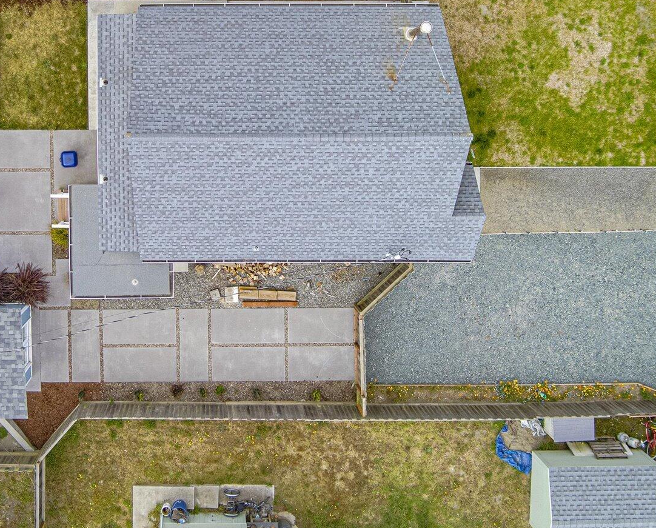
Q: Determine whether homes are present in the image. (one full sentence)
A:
Yes, there is a home in the image.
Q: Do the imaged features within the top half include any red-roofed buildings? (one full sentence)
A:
No, no red-roofed building can be made out within the top half.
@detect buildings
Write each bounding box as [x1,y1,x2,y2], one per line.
[0,292,47,418]
[69,1,483,300]
[156,513,247,528]
[527,449,656,528]
[536,416,592,440]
